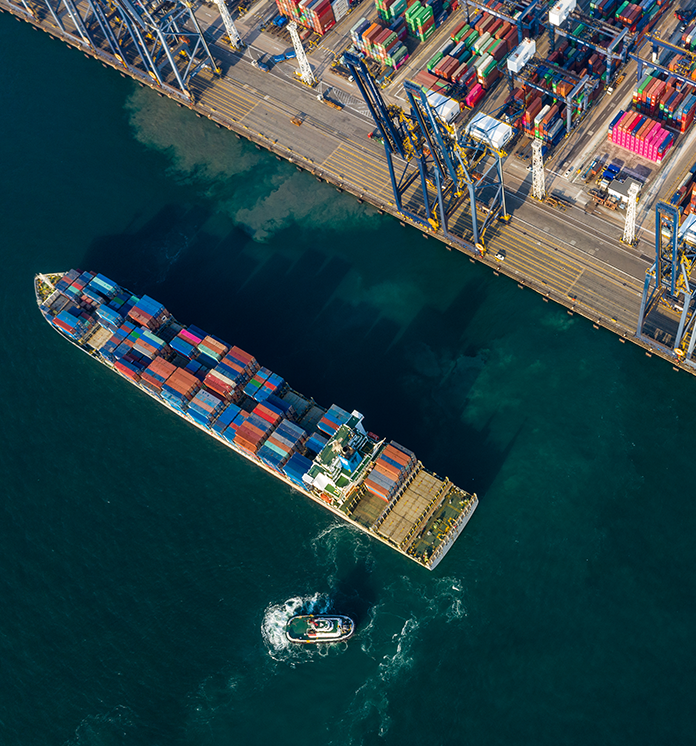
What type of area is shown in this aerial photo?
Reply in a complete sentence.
This looks like a port.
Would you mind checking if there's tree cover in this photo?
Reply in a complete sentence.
No, tree cover can't be seen anywhere here.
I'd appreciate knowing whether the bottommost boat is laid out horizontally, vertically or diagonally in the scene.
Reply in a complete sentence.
In this picture, the bottommost boat is oriented horizontally.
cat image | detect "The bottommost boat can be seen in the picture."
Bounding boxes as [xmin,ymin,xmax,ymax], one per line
[287,615,357,643]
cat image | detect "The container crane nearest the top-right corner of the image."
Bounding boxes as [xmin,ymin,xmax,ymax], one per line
[627,31,696,96]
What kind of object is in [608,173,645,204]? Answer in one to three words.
shed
